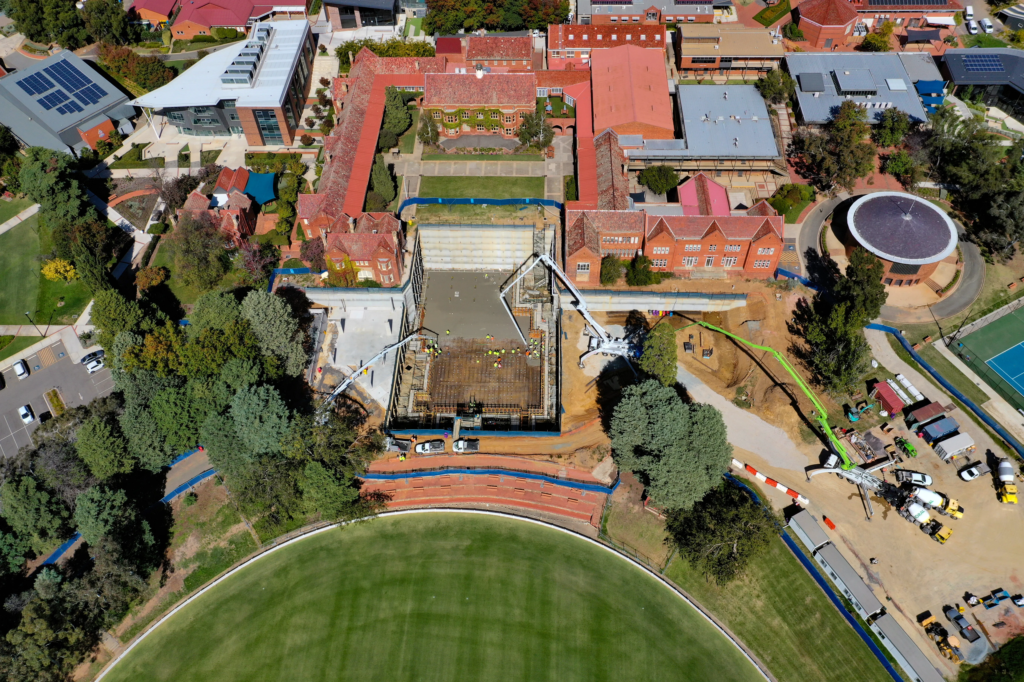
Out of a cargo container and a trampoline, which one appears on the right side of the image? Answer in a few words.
cargo container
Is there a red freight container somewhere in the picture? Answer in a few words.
Yes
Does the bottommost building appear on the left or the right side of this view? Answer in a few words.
right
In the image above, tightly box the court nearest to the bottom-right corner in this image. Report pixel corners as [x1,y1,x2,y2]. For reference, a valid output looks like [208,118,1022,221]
[948,298,1024,411]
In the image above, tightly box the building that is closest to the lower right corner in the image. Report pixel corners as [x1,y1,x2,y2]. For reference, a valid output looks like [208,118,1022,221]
[869,613,944,682]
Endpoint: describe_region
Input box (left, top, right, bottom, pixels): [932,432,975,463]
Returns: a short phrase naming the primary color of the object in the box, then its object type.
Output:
white shipping container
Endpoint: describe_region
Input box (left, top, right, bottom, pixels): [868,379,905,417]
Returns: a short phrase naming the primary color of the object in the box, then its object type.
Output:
red shipping container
